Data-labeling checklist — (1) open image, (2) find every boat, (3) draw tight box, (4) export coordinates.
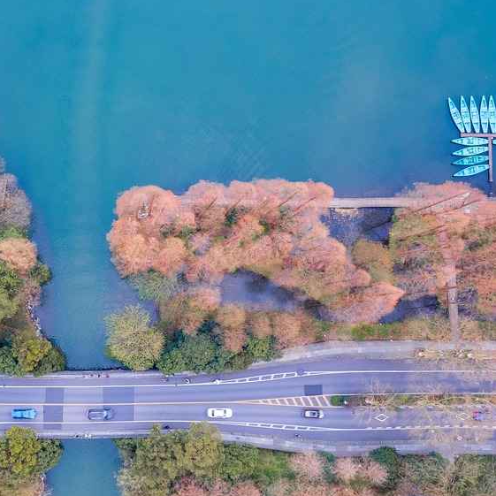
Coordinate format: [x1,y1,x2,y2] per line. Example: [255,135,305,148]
[453,163,488,176]
[482,95,489,133]
[461,95,472,133]
[489,94,496,133]
[452,155,488,165]
[451,137,488,145]
[472,95,482,133]
[453,146,488,155]
[448,97,466,133]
